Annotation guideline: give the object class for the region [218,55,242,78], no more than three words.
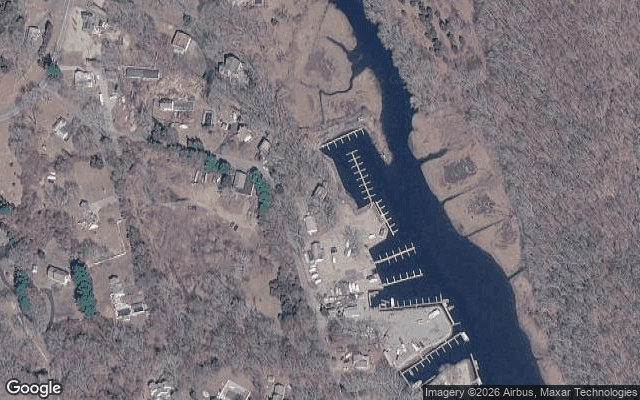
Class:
house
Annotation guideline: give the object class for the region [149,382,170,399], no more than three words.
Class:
house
